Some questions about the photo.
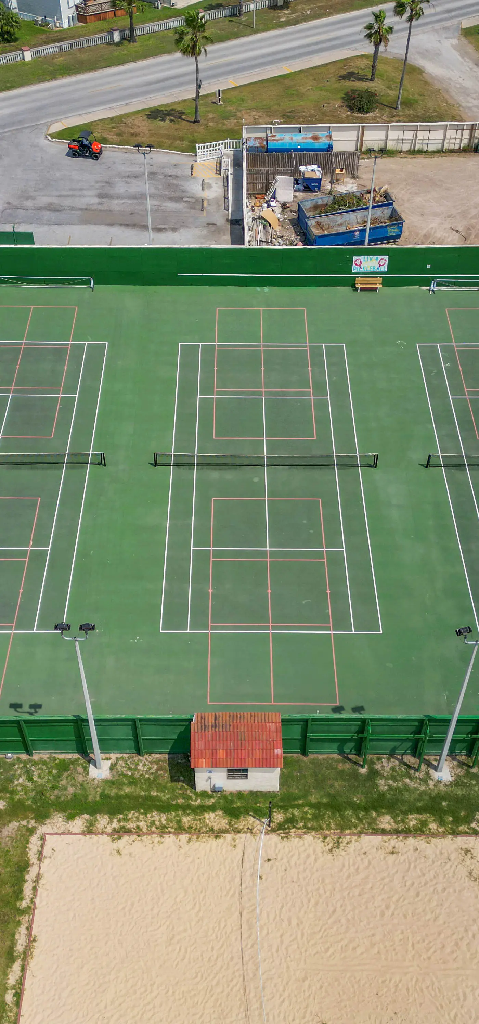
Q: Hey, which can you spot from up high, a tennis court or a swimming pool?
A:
tennis court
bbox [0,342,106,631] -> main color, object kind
green tennis court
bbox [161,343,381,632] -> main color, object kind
green tennis court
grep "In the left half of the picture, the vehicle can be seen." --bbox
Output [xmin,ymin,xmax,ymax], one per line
[66,131,106,160]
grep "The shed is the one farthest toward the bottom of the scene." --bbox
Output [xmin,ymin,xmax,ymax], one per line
[191,712,283,794]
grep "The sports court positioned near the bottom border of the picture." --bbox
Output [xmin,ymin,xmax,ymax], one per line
[16,832,479,1024]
